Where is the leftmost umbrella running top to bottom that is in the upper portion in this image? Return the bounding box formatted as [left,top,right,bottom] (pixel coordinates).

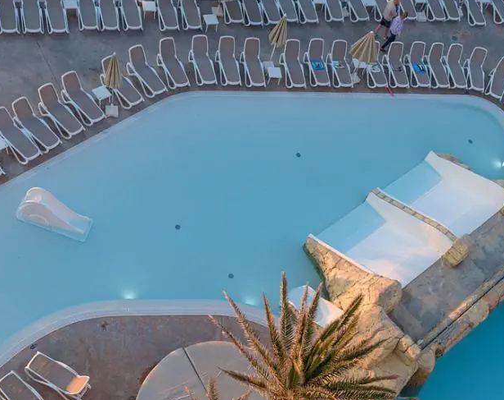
[101,51,123,118]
